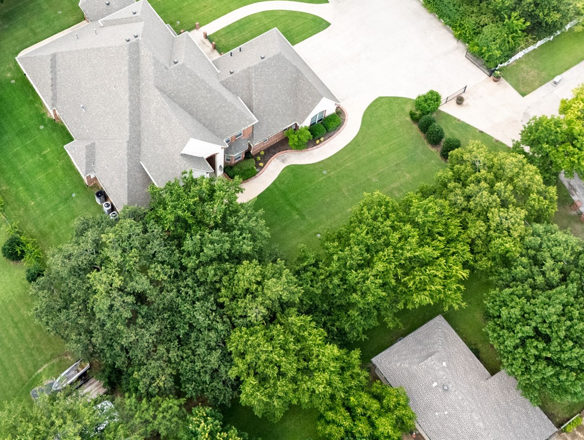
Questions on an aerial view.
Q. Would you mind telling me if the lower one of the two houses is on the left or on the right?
right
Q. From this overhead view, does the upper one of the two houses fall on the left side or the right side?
left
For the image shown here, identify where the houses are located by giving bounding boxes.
[14,0,342,235]
[369,314,560,440]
